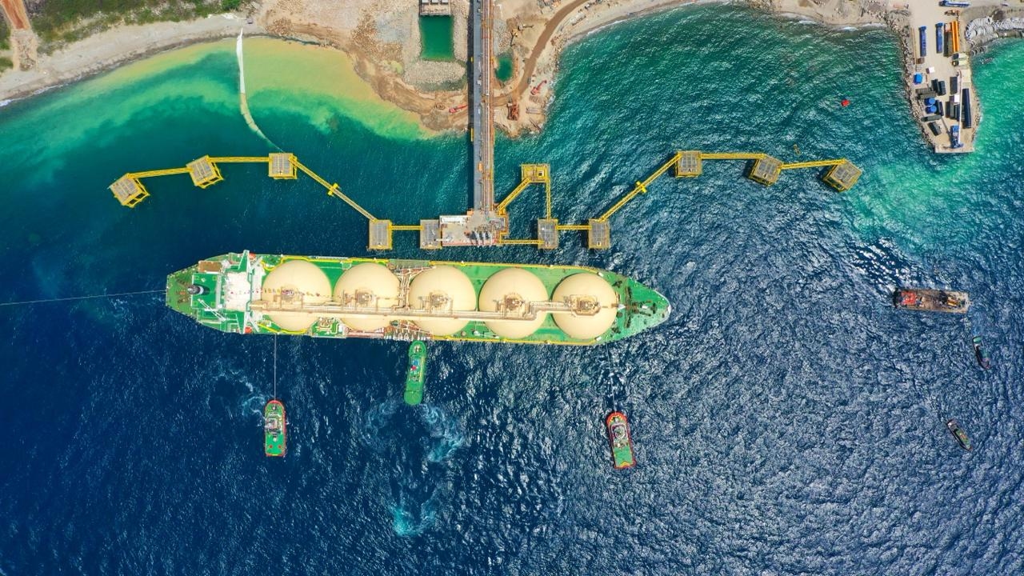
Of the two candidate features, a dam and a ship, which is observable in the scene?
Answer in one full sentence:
Looking from above, you can make out a ship.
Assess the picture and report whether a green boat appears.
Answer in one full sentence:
Yes, a green boat can be made out from above.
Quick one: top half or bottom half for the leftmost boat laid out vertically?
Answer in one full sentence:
The bottom half of the photo is where the leftmost boat laid out vertically is.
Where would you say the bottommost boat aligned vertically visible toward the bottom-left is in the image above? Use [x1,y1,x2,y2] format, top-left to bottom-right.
[264,399,288,457]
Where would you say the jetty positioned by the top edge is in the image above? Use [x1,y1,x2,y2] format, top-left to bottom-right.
[471,0,495,210]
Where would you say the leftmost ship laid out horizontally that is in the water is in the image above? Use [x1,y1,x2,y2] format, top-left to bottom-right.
[166,250,671,345]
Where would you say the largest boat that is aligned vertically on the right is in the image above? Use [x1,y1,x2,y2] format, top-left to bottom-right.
[607,411,635,471]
